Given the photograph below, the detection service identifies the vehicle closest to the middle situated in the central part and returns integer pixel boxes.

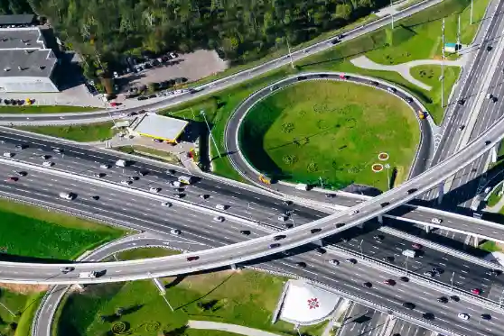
[255,172,273,185]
